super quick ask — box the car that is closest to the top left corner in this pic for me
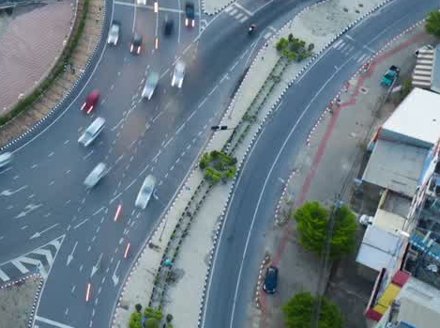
[107,22,121,46]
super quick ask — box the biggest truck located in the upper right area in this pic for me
[379,63,400,89]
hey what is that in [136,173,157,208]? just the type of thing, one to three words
vehicle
